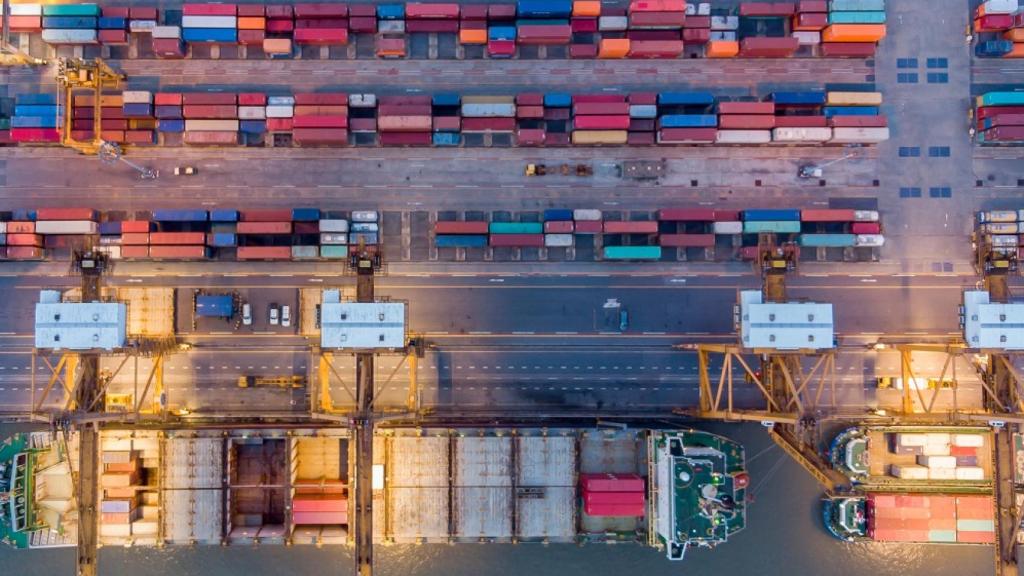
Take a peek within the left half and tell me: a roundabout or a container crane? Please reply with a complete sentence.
You can see a container crane within the left half.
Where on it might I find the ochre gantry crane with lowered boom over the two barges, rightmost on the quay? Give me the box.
[874,233,1024,576]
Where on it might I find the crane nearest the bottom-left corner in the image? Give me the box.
[29,233,189,576]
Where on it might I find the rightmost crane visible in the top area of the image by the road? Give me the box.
[58,56,127,154]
